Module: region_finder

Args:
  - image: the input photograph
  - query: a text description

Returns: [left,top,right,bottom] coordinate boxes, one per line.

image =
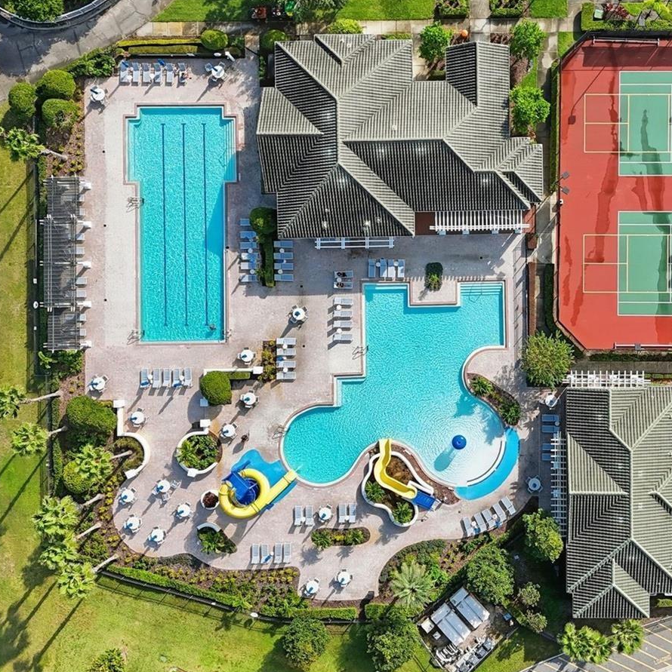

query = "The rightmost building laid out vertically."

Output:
[566,386,672,619]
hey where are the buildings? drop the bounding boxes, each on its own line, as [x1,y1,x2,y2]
[250,32,543,238]
[566,386,672,619]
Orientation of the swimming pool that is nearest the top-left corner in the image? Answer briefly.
from top to bottom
